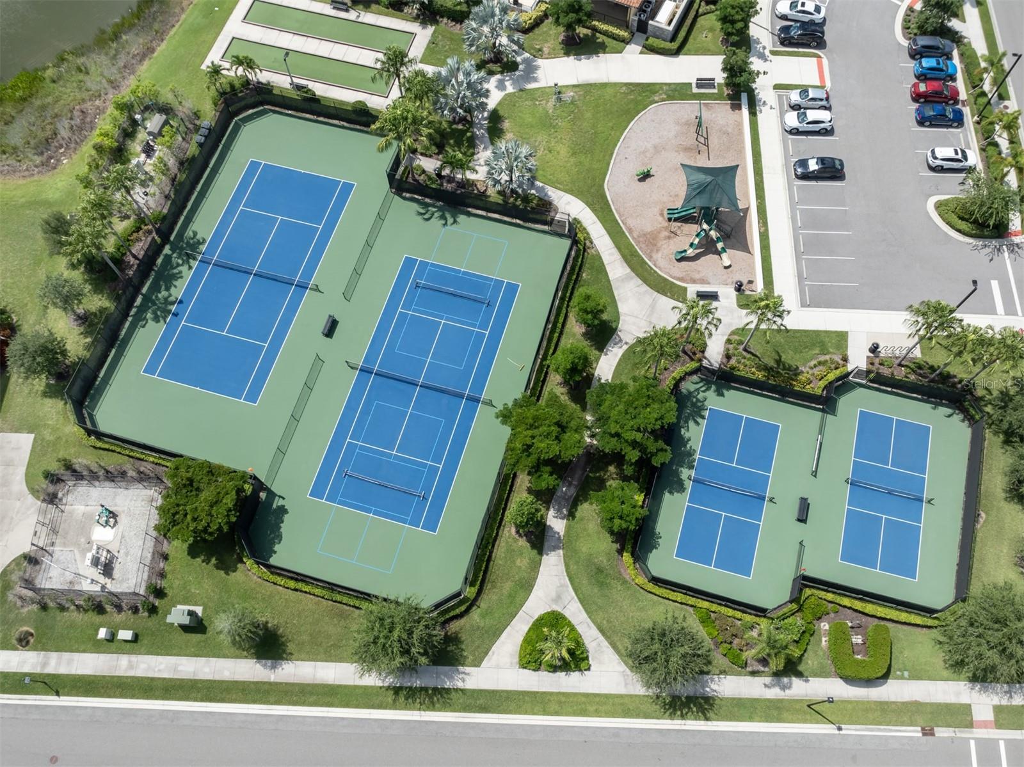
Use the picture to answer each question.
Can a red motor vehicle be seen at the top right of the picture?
Yes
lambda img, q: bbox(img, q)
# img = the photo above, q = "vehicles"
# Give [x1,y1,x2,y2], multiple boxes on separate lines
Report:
[776,0,824,23]
[912,80,963,104]
[788,86,834,110]
[916,103,968,127]
[907,33,956,58]
[784,109,835,134]
[927,145,979,171]
[911,55,961,80]
[793,154,847,179]
[778,21,826,47]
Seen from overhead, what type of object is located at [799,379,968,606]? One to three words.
sports court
